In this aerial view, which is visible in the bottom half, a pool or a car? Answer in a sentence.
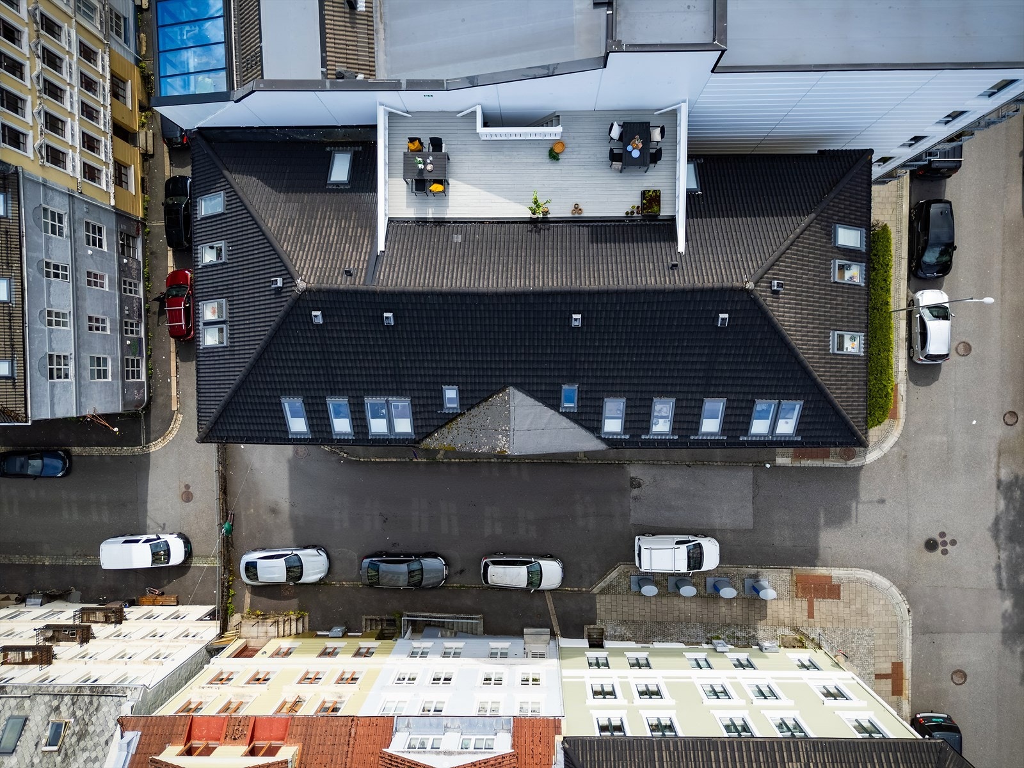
You can see a car in the bottom half.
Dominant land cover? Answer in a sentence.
What you mostly see from above here is buildings.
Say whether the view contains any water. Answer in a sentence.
No, there is no water in the image.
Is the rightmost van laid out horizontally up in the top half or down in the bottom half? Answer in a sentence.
The bottom half of the photo is where the rightmost van laid out horizontally is.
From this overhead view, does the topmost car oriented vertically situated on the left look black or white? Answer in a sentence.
In this view, the topmost car oriented vertically situated on the left is black.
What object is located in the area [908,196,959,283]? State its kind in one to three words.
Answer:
car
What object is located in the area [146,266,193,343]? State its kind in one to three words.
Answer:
car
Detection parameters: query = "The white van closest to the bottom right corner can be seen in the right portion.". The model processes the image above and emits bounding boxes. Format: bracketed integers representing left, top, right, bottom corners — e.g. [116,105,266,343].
[634,533,722,578]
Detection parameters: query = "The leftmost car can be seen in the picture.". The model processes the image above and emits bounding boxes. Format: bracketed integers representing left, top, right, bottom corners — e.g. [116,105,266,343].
[0,445,74,485]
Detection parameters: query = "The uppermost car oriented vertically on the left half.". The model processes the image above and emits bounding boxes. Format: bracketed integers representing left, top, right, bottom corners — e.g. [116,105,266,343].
[156,172,192,253]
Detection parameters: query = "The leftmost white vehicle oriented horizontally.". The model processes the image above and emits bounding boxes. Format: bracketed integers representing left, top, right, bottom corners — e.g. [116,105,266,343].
[93,531,192,575]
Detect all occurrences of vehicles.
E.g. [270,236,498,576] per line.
[156,108,191,156]
[146,266,193,343]
[481,552,566,595]
[907,288,955,366]
[634,533,722,578]
[908,196,959,283]
[913,708,960,768]
[360,550,450,593]
[156,172,192,253]
[93,531,192,575]
[239,544,331,588]
[0,445,74,485]
[912,132,973,194]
